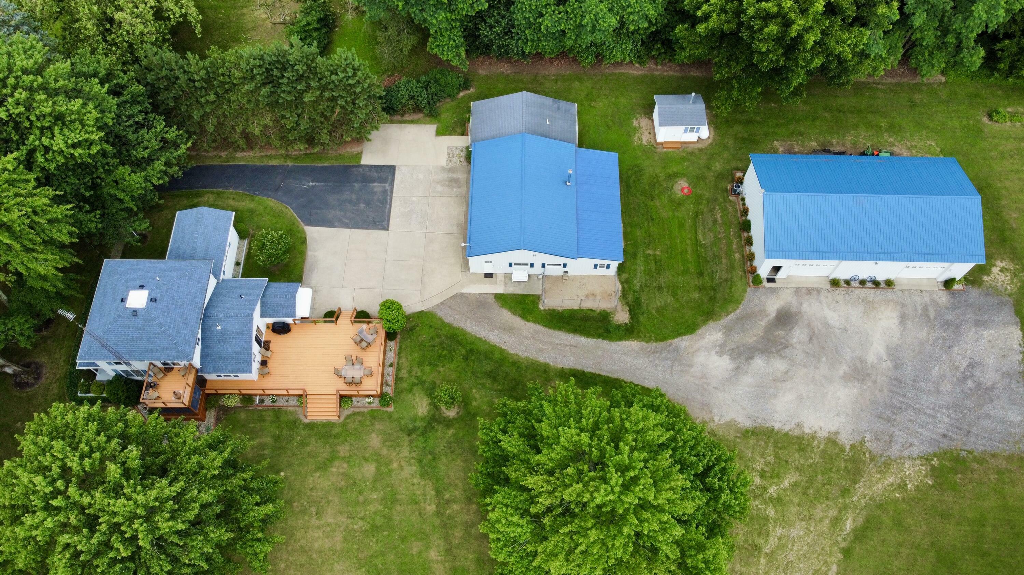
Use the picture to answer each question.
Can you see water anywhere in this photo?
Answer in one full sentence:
No, water can't be seen anywhere here.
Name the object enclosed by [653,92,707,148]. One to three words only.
shed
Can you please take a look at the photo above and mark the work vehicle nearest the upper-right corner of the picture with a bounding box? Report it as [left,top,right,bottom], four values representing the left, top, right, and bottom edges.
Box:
[862,142,895,156]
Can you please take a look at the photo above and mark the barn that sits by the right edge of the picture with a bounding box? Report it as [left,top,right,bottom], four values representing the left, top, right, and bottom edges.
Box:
[743,153,985,283]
